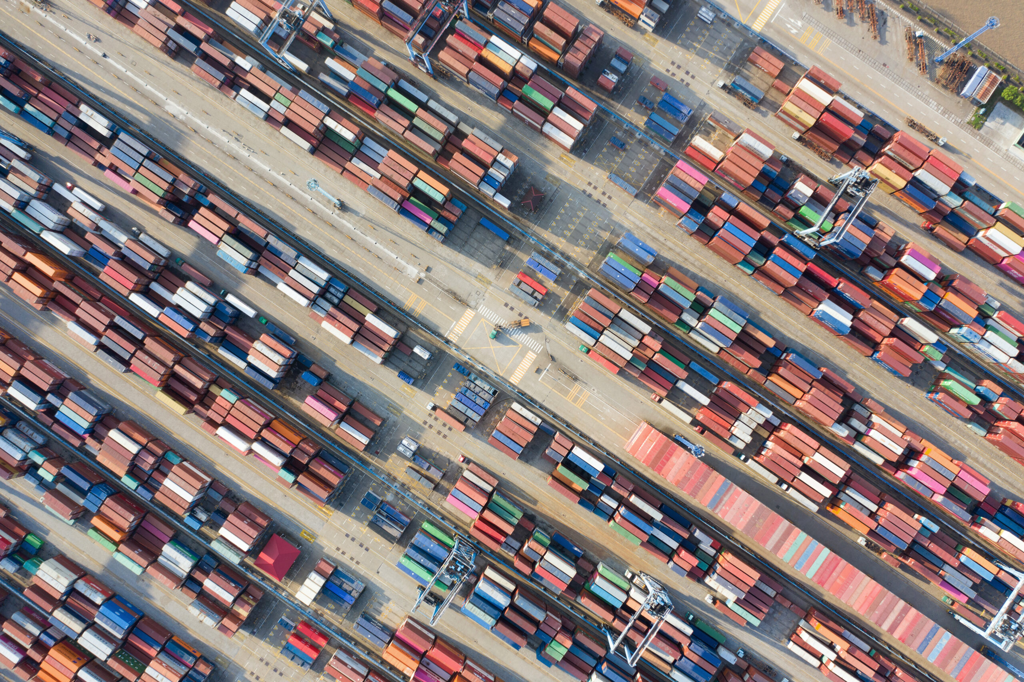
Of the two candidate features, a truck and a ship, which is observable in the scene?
truck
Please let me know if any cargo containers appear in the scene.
Yes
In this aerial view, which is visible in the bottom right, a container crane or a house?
container crane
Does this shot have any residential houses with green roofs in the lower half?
No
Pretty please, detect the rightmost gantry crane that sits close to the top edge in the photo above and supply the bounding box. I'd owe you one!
[400,0,478,81]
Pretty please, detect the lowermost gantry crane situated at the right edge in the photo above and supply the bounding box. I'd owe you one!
[943,551,1024,660]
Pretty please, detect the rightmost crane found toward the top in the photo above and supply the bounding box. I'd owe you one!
[790,159,888,252]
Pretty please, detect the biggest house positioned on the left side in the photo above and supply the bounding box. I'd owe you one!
[254,526,300,580]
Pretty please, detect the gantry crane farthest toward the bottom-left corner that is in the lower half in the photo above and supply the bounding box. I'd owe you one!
[404,530,485,633]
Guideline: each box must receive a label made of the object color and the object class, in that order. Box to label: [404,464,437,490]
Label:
gray shipping container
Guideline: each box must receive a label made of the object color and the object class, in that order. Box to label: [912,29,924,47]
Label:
white vehicle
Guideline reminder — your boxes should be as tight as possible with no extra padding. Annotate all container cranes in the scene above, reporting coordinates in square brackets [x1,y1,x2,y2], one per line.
[400,0,478,81]
[943,551,1024,660]
[253,0,342,80]
[598,570,682,677]
[790,159,888,252]
[404,530,485,633]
